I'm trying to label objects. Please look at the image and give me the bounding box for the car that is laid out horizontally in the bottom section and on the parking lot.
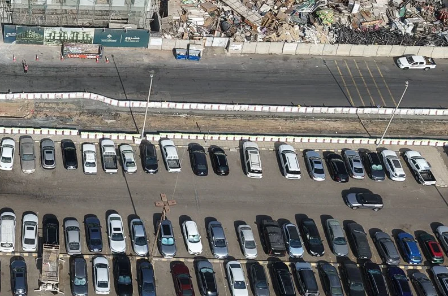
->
[342,190,388,212]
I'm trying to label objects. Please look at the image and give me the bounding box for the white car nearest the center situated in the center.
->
[241,142,266,179]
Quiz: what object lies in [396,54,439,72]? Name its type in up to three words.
vehicle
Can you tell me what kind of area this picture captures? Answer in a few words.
parking lot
